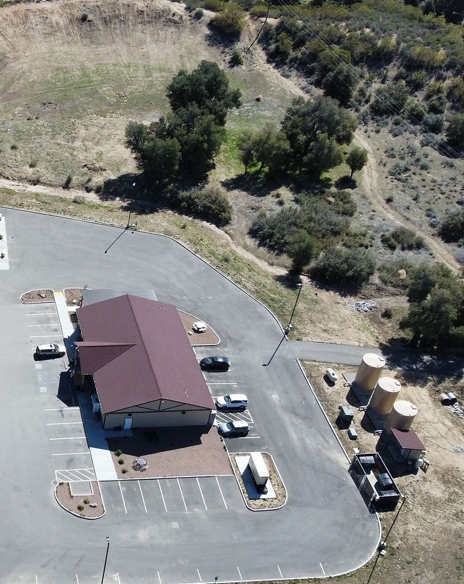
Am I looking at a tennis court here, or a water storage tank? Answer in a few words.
water storage tank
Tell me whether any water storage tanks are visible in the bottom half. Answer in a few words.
Yes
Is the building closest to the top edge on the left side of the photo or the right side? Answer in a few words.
left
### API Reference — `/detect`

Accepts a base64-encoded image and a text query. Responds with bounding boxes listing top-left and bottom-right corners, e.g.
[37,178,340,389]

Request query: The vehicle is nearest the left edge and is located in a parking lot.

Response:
[36,341,67,355]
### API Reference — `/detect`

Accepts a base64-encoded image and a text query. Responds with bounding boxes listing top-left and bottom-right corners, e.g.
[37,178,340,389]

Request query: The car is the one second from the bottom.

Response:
[214,391,249,407]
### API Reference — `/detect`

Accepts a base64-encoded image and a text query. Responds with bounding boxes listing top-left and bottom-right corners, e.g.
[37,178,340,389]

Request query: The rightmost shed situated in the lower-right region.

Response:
[390,433,424,463]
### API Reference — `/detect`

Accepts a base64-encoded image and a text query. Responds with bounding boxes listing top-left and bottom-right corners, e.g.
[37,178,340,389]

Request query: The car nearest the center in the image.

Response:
[198,353,231,368]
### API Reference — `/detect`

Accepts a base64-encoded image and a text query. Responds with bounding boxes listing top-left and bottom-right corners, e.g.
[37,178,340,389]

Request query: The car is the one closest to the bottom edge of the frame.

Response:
[219,418,253,434]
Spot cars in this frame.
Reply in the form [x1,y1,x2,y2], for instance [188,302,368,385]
[214,391,249,407]
[198,353,231,368]
[36,341,67,355]
[219,418,253,434]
